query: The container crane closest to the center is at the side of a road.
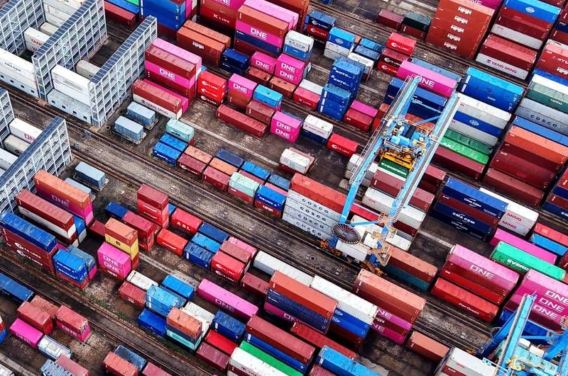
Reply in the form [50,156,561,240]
[312,70,465,283]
